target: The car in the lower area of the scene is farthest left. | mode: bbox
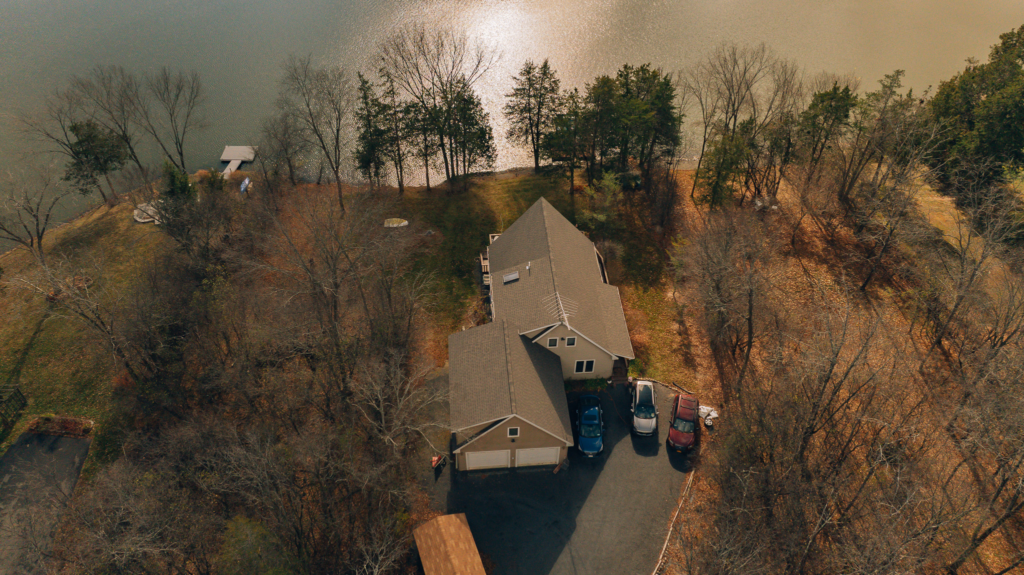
[574,391,608,458]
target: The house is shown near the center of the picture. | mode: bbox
[448,197,636,475]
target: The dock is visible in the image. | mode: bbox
[222,143,259,180]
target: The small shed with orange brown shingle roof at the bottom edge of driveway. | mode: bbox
[413,513,486,575]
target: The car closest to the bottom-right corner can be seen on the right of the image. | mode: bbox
[665,390,705,456]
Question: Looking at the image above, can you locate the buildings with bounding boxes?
[448,197,636,475]
[413,513,486,575]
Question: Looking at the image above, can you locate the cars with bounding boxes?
[665,390,705,456]
[574,391,608,458]
[629,378,663,438]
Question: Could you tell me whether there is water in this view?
Yes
